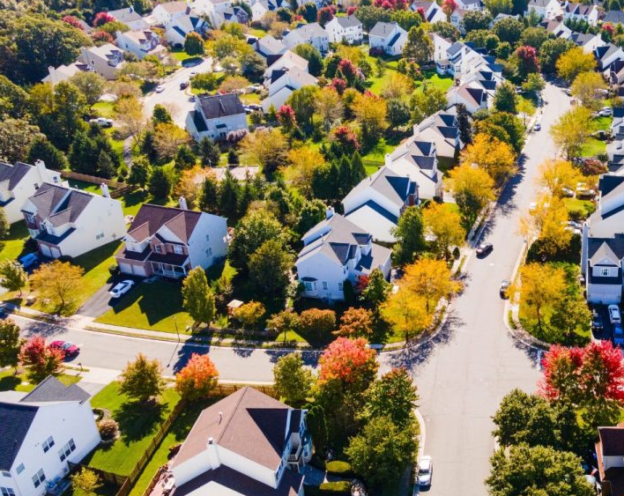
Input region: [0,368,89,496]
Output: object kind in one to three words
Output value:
house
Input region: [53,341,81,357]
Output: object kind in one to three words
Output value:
car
